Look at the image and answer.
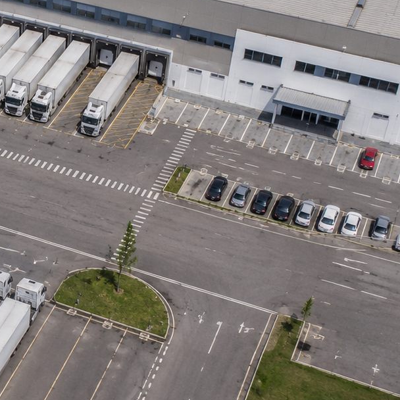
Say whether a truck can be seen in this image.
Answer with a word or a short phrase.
Yes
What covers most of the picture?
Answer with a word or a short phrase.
paved ground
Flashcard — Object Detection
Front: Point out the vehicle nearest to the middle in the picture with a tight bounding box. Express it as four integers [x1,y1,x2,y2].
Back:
[206,178,227,202]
